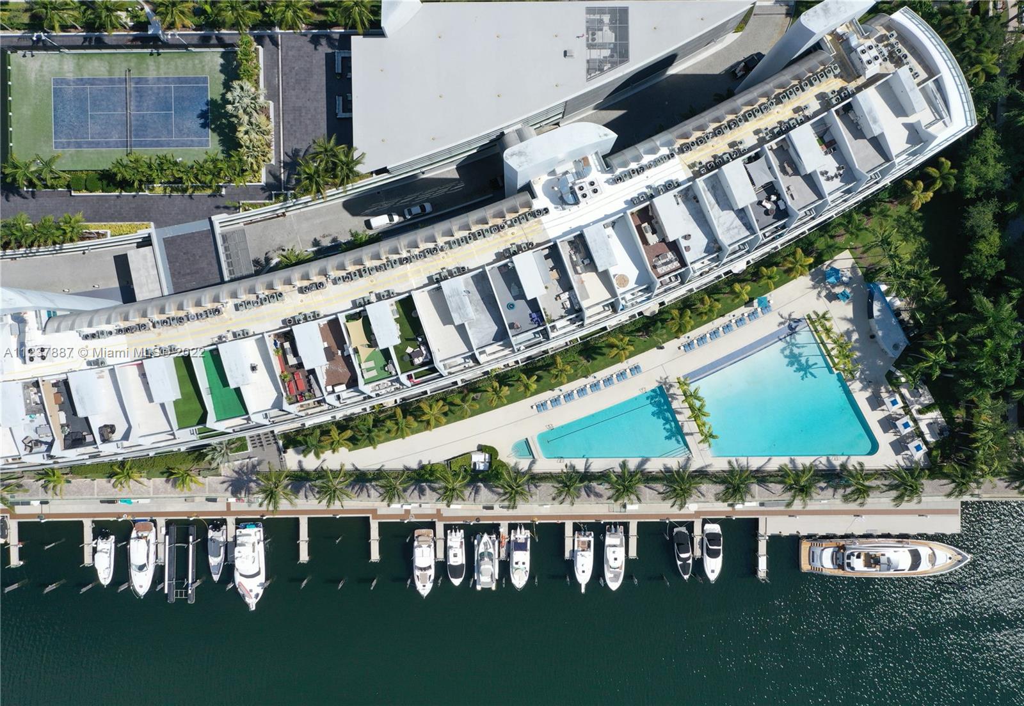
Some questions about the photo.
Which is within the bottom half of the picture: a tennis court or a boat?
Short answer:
boat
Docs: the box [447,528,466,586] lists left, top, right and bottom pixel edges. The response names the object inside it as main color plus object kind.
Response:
white boat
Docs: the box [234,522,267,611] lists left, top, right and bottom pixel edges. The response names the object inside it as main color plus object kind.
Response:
white boat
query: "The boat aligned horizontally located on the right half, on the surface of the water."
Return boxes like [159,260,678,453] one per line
[796,537,970,577]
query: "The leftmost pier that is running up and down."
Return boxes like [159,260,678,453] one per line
[4,520,24,568]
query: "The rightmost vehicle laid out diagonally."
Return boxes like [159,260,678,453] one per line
[731,52,764,81]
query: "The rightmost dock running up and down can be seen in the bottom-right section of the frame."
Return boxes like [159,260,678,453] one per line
[754,533,771,583]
